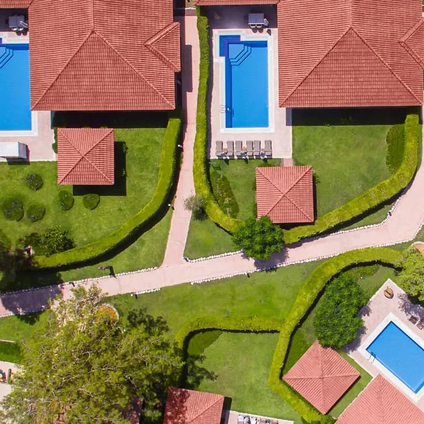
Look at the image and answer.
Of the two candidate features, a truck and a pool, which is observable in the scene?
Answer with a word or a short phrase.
pool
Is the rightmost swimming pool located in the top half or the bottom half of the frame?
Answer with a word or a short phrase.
bottom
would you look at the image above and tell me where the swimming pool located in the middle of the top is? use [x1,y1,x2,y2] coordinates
[214,30,274,134]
